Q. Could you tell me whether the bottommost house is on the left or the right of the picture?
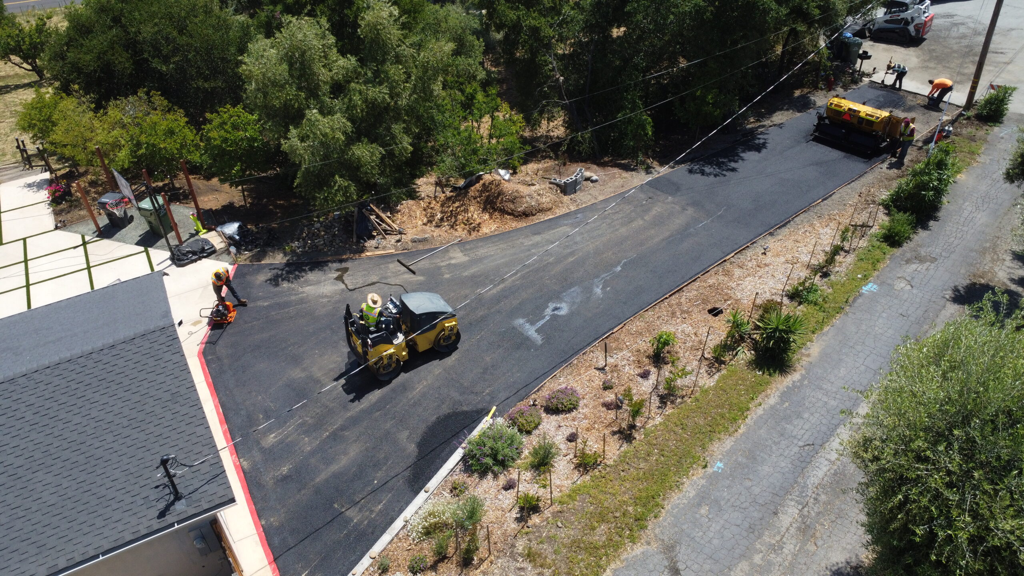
left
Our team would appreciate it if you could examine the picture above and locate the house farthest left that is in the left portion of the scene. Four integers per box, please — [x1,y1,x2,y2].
[0,271,250,576]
